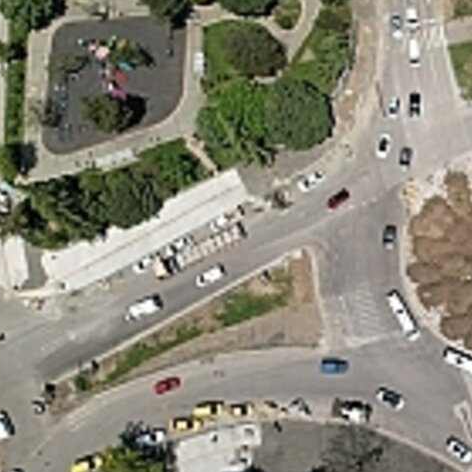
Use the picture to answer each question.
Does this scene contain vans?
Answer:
Yes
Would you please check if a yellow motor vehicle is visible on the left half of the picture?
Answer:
Yes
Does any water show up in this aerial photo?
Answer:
No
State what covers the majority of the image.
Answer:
paved ground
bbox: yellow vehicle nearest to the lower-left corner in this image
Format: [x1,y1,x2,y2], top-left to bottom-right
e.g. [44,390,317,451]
[70,452,105,472]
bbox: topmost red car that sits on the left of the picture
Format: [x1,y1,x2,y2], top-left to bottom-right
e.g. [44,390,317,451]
[152,376,183,395]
